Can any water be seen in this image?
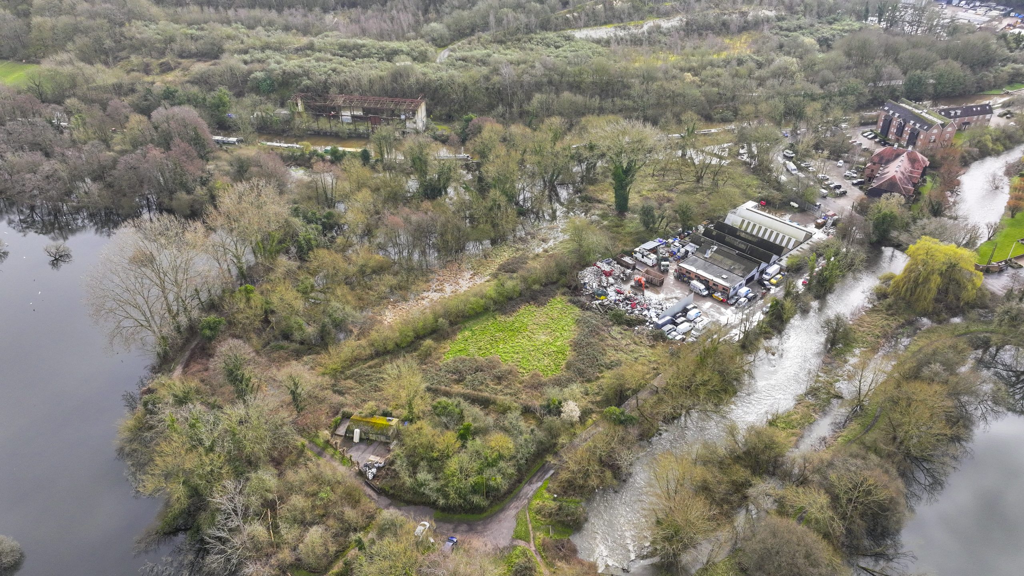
Yes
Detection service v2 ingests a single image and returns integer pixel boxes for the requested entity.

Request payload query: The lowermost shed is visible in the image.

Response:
[345,410,401,443]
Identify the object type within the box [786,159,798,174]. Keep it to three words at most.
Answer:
vehicle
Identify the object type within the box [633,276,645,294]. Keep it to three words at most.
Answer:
vehicle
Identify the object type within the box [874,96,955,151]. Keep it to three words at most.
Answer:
building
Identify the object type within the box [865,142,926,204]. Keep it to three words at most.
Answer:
barn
